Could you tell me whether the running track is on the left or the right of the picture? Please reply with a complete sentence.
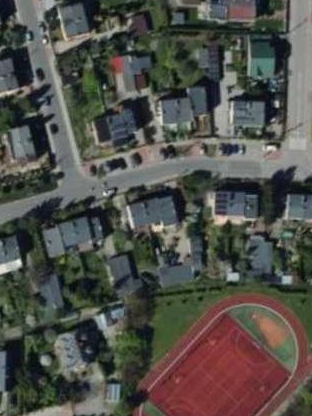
The running track appears in the right half of the scene.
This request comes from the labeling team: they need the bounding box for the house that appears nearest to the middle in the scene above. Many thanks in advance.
[127,196,178,230]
